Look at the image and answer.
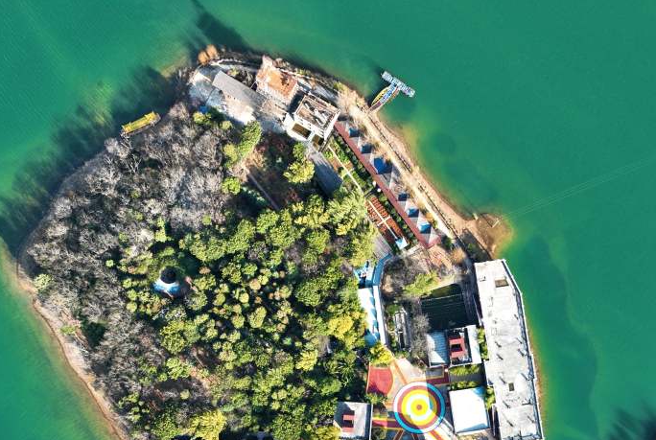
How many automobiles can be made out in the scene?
0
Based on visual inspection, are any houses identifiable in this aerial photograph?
Yes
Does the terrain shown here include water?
Yes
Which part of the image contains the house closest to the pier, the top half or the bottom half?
top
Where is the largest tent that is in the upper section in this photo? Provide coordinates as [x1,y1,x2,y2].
[374,160,399,186]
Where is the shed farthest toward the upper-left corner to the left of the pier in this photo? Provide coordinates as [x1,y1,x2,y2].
[213,71,267,112]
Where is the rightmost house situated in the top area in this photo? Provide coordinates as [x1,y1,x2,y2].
[285,93,340,154]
